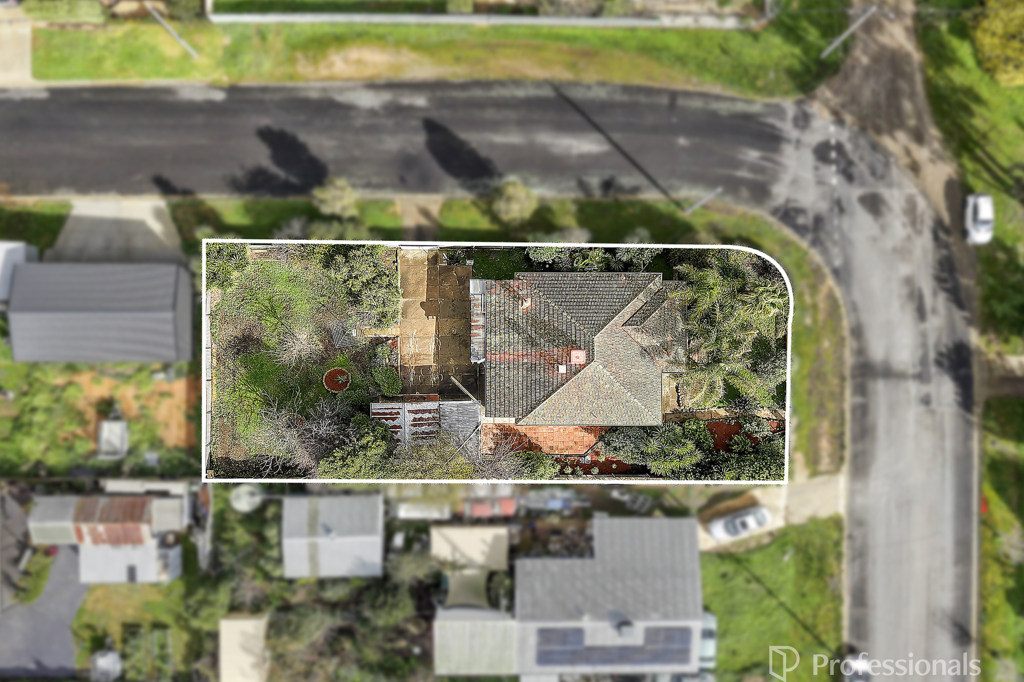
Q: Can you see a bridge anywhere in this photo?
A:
No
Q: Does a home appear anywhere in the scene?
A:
Yes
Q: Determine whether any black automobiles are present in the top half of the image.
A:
No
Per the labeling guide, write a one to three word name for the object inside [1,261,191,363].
shed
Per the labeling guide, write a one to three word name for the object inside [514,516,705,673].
house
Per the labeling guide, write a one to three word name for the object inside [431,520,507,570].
shed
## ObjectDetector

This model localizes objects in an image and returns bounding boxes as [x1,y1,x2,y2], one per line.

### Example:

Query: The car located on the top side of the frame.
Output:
[961,191,994,246]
